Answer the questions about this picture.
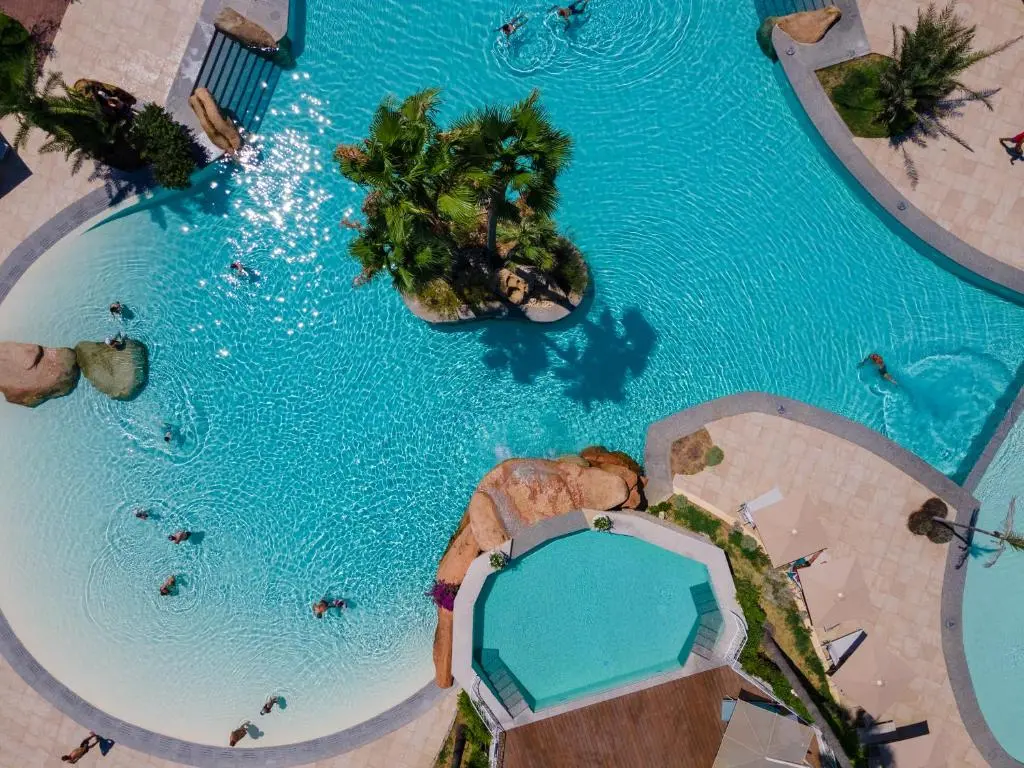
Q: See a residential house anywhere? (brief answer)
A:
No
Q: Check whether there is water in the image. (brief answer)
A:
Yes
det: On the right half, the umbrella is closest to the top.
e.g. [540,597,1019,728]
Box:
[753,493,828,568]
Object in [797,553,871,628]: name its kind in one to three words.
umbrella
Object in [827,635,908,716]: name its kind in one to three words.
umbrella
